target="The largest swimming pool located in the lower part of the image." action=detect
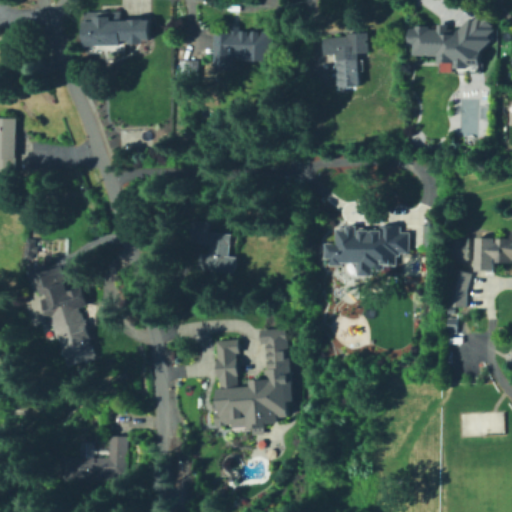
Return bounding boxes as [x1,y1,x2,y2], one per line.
[243,459,271,486]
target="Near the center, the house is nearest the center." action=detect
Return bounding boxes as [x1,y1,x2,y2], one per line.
[204,233,238,276]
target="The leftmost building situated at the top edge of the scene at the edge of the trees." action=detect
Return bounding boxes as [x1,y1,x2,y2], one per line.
[80,11,148,48]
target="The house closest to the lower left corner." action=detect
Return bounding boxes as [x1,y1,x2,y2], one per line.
[60,436,130,486]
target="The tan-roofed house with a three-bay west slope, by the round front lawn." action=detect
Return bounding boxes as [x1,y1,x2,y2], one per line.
[474,237,512,271]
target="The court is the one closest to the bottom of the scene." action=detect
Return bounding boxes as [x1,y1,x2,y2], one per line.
[461,410,506,438]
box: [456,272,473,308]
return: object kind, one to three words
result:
building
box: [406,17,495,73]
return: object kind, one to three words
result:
house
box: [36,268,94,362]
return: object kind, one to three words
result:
house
